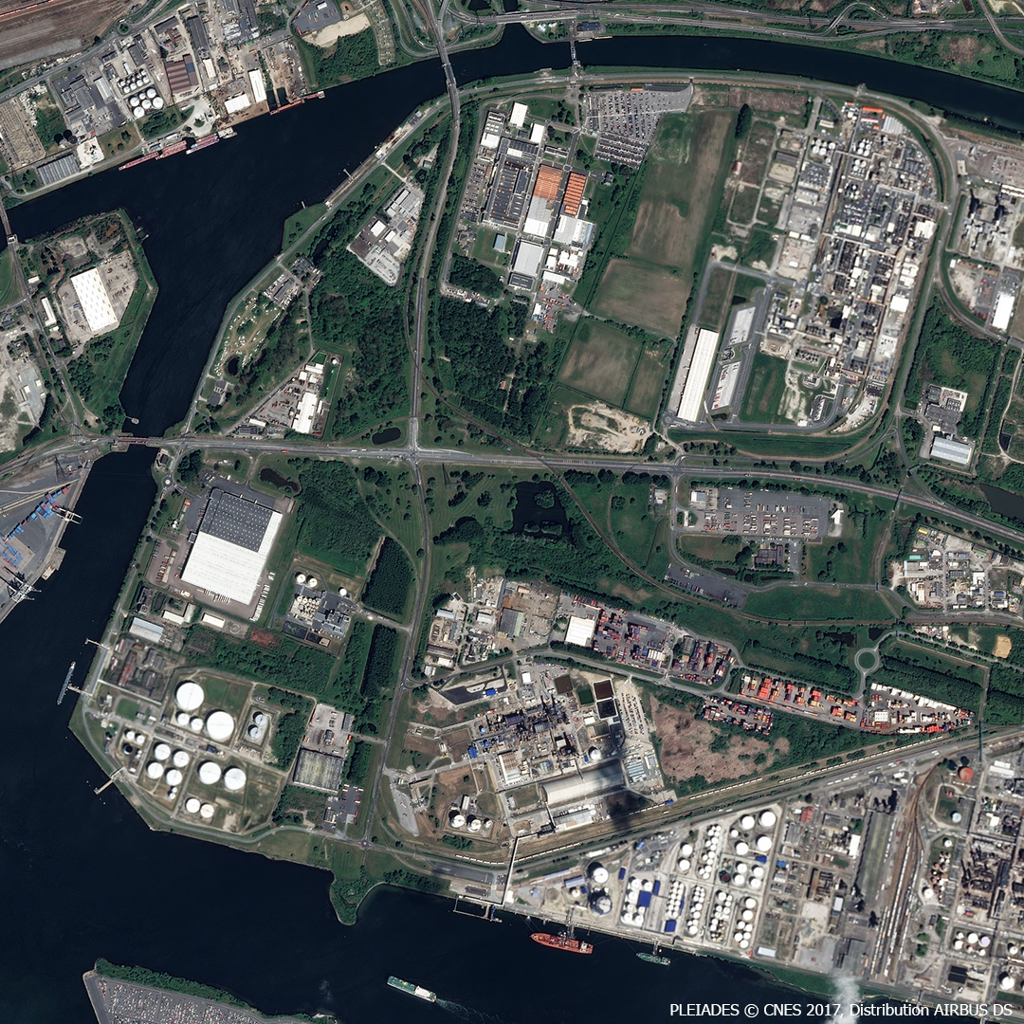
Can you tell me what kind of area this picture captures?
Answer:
port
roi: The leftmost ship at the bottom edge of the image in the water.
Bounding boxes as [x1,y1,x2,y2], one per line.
[387,977,436,1003]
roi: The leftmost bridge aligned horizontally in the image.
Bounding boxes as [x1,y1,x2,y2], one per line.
[111,433,166,447]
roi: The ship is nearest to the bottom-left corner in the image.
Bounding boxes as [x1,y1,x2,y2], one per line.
[57,662,75,704]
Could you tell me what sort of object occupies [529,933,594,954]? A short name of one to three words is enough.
ship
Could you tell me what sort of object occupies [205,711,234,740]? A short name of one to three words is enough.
storage tank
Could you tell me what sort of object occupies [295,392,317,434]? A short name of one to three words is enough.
building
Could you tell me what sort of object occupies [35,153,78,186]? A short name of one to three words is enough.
shed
